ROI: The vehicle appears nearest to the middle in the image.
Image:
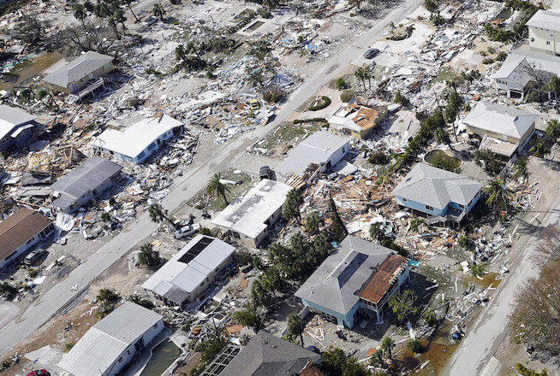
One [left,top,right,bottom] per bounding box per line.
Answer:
[259,163,275,179]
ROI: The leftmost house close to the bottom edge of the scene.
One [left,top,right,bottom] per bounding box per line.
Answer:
[58,304,162,376]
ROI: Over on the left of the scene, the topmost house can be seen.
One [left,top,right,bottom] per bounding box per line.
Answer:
[40,51,115,110]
